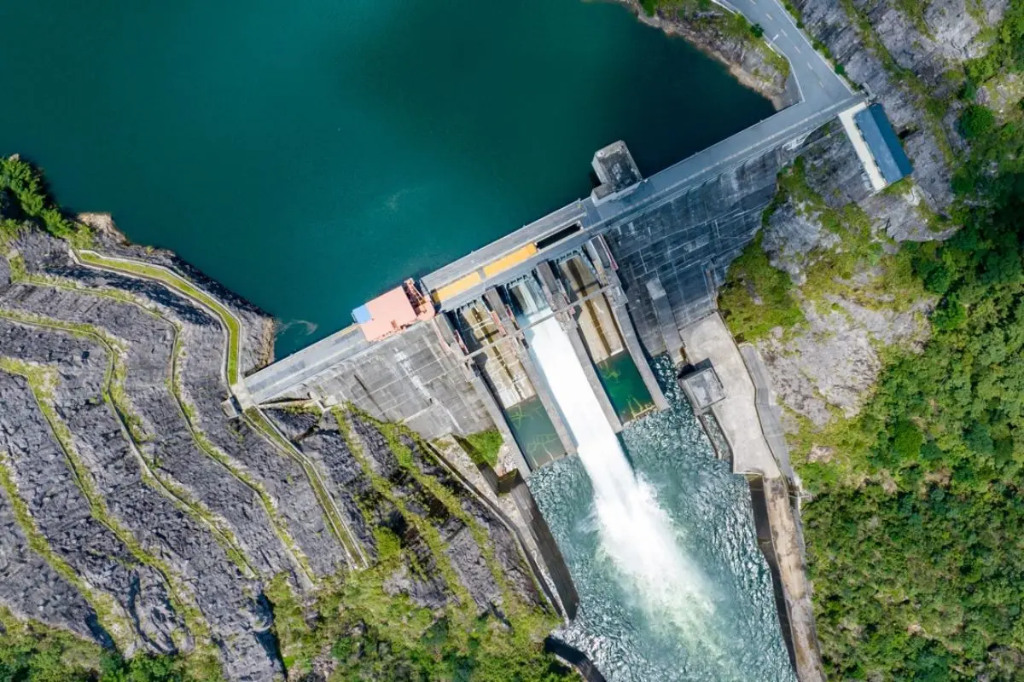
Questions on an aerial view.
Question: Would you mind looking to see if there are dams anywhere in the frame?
Yes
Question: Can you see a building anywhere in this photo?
Yes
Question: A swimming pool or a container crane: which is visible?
swimming pool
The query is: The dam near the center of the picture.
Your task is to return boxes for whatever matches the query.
[243,84,850,479]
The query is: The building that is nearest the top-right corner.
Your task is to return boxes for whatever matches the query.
[853,106,913,185]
